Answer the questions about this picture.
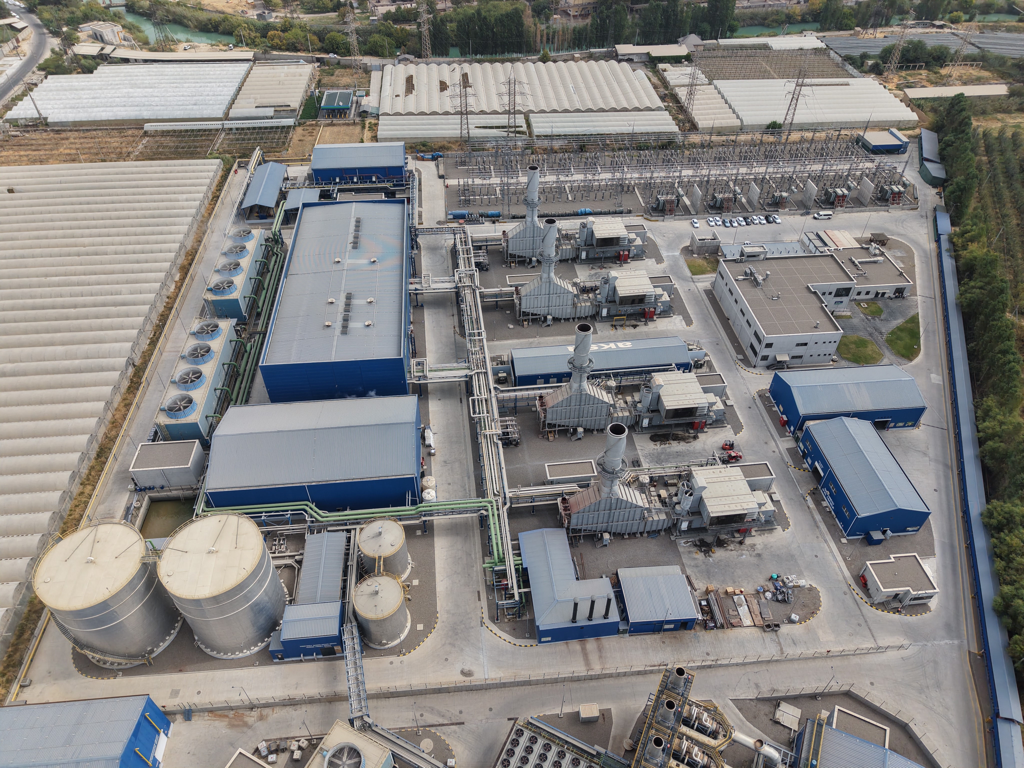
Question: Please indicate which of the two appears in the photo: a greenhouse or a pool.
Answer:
greenhouse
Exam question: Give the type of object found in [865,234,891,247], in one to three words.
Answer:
gazebo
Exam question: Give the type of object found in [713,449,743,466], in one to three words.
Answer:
work vehicle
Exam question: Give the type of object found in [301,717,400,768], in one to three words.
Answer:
cooling tower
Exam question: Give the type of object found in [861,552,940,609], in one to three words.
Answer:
house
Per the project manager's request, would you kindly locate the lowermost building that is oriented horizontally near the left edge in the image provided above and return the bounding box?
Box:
[0,694,174,768]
